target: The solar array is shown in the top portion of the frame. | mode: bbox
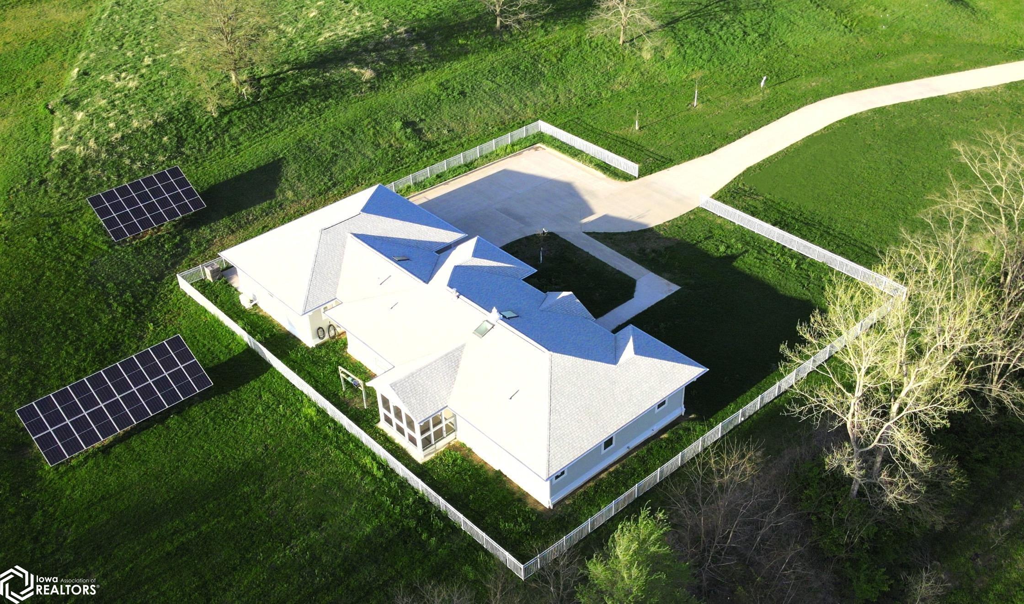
[86,168,209,243]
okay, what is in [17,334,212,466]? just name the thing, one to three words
solar array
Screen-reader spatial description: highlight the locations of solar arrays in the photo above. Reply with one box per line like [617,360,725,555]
[86,168,209,243]
[17,334,212,466]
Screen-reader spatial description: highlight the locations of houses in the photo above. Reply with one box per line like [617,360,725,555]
[218,183,710,514]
